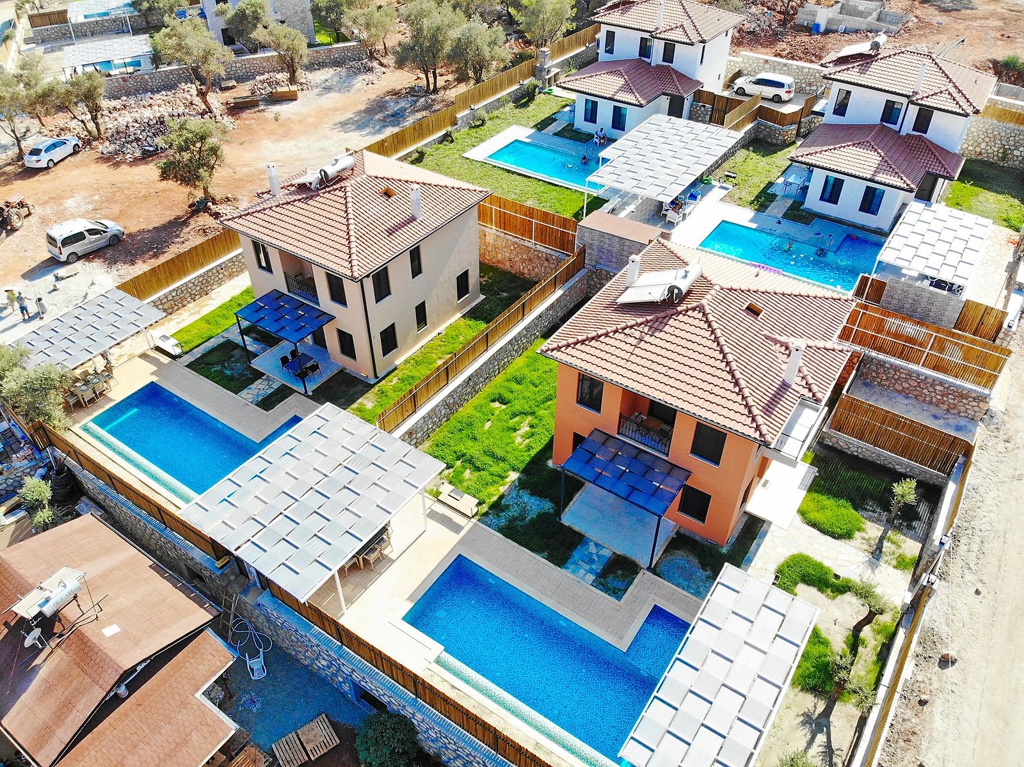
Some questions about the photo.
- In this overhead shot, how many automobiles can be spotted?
three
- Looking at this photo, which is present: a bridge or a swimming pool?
swimming pool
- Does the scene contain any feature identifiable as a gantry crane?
No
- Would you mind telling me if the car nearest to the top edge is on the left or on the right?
right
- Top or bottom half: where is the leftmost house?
bottom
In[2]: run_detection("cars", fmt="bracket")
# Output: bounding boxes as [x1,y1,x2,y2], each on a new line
[16,132,86,168]
[730,70,796,103]
[38,215,127,262]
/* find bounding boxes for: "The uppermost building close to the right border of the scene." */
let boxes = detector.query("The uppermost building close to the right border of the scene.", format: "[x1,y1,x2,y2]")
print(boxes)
[781,47,1001,232]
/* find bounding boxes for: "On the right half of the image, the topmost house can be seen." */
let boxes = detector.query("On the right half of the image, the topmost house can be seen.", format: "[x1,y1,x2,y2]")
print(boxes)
[553,0,737,139]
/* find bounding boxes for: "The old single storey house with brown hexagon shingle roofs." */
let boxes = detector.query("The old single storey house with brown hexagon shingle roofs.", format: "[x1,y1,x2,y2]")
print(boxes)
[0,513,243,767]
